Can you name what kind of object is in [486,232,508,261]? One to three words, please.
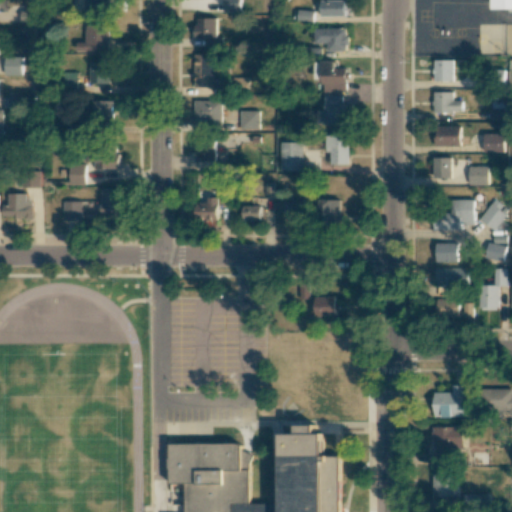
building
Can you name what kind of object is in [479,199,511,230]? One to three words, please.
house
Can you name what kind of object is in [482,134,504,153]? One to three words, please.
building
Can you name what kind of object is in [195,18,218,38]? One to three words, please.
house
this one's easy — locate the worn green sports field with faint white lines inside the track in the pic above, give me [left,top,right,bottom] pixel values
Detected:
[0,344,128,512]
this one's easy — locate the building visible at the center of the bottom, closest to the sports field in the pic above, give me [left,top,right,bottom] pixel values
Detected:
[168,443,272,512]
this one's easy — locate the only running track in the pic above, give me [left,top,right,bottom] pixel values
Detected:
[0,283,142,512]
